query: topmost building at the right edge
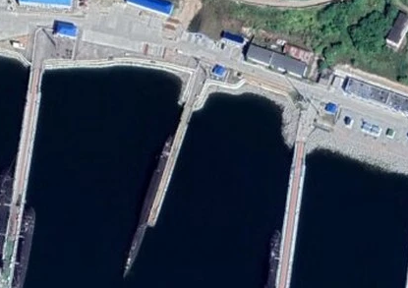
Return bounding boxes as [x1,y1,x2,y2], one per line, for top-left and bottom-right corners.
[386,12,408,46]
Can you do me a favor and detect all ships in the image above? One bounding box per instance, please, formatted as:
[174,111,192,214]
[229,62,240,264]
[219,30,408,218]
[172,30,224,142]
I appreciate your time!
[13,207,36,288]
[263,229,281,288]
[124,136,173,278]
[0,172,13,253]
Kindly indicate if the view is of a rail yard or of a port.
port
